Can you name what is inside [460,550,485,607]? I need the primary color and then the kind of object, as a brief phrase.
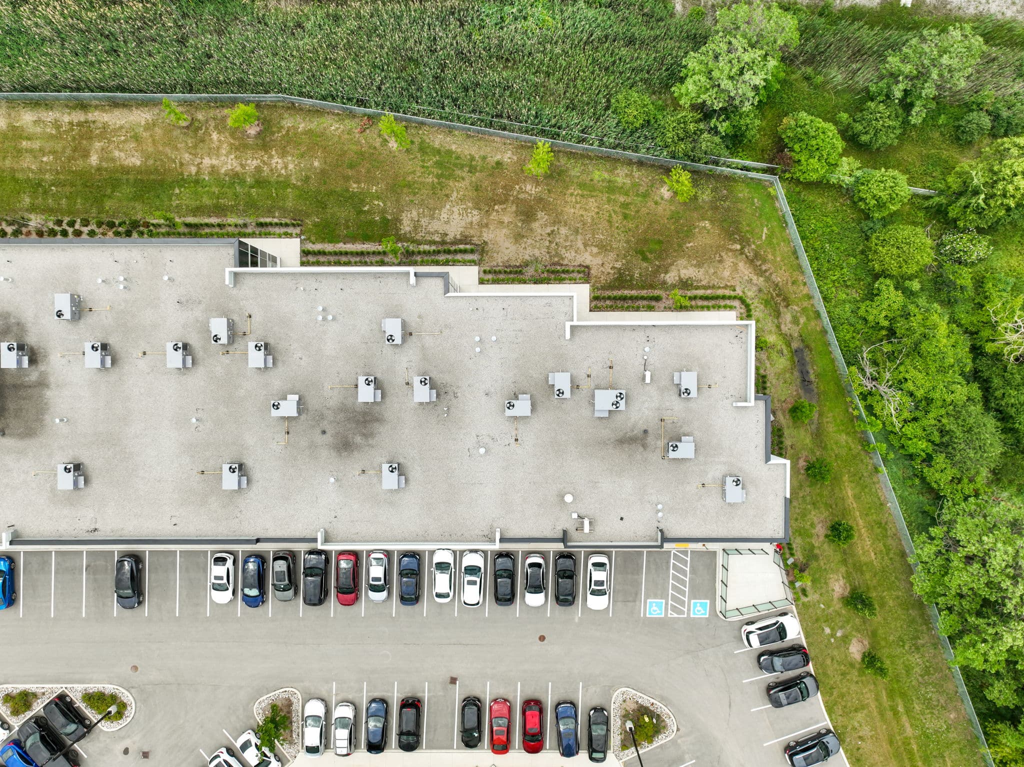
white car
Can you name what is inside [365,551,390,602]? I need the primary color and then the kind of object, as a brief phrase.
white car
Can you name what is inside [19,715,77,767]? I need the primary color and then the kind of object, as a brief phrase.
gray truck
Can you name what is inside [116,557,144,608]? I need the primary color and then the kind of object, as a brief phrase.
gray car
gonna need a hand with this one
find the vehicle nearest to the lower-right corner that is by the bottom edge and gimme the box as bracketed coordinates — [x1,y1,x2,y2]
[785,730,841,767]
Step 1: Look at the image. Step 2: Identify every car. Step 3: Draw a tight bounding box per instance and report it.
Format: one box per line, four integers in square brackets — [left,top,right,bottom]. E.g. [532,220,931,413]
[492,552,517,607]
[396,552,421,606]
[331,702,357,757]
[554,552,579,607]
[459,697,483,747]
[785,730,841,767]
[0,557,17,609]
[43,694,91,741]
[523,554,547,606]
[270,551,298,602]
[116,557,144,608]
[488,699,512,755]
[302,550,328,607]
[302,699,328,757]
[208,553,235,603]
[365,551,390,602]
[460,550,485,607]
[742,616,798,648]
[555,701,580,758]
[758,643,811,676]
[240,556,266,607]
[766,674,819,707]
[587,555,611,609]
[364,699,389,754]
[334,552,360,606]
[521,700,545,753]
[587,707,611,763]
[397,698,422,751]
[236,727,281,767]
[431,549,456,604]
